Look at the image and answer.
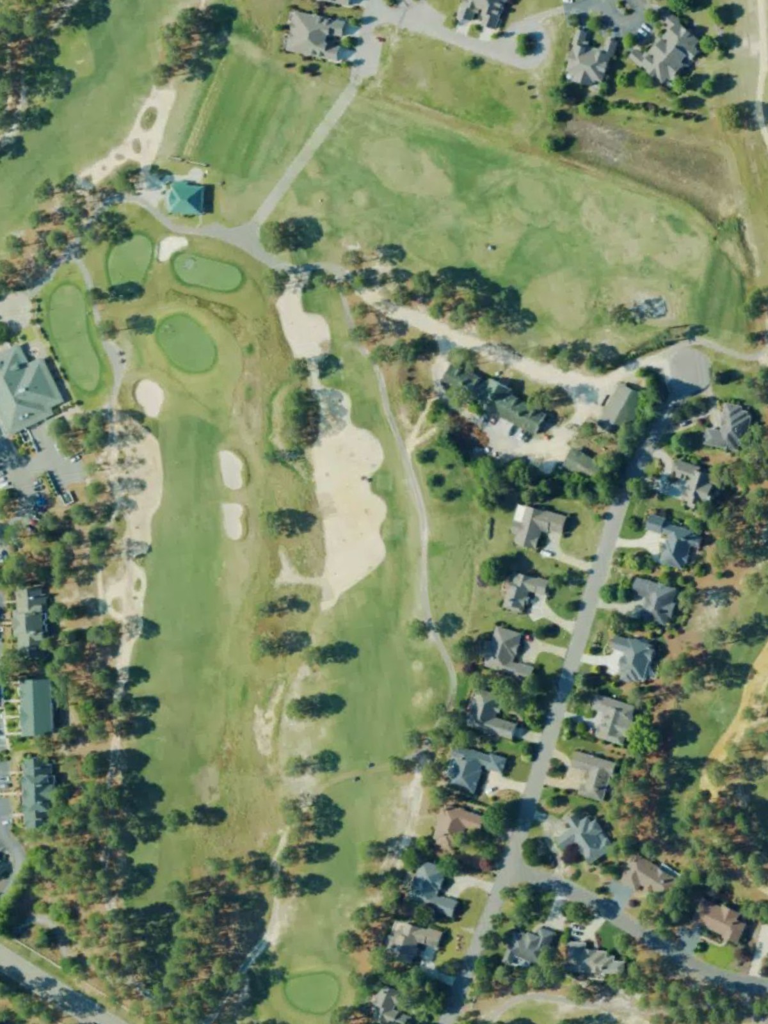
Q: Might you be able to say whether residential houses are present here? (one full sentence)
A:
Yes, the frame does contain a residential house.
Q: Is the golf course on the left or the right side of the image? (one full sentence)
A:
You can find the golf course on the left side of the picture.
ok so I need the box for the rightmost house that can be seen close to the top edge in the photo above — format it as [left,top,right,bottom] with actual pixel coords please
[627,14,702,83]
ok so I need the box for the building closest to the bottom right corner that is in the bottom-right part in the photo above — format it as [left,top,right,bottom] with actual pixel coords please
[696,900,754,952]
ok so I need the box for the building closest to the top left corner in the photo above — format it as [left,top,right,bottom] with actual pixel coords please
[166,182,203,214]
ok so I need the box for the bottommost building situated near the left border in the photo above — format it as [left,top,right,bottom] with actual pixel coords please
[20,757,55,830]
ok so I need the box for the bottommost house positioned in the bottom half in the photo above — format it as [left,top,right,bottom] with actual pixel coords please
[369,986,417,1024]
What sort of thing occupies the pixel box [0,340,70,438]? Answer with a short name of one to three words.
building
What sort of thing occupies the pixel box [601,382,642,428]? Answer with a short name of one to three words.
shed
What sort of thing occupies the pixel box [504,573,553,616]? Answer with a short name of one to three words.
house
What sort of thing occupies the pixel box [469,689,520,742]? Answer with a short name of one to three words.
house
